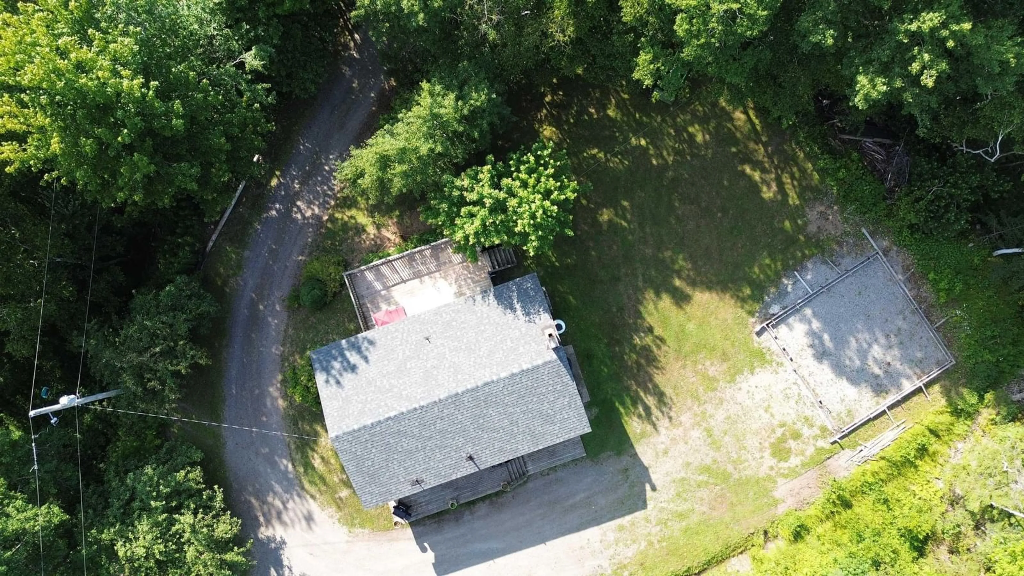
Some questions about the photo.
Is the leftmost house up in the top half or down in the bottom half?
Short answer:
bottom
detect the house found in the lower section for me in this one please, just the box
[309,272,591,509]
